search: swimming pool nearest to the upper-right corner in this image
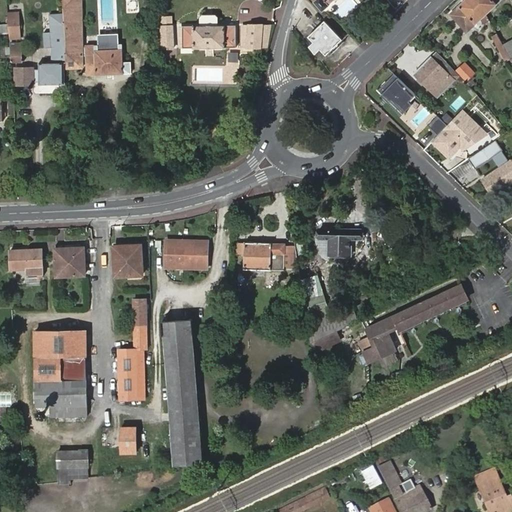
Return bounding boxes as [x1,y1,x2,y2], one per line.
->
[448,95,466,113]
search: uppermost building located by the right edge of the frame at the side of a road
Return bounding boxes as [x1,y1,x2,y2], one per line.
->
[448,0,496,33]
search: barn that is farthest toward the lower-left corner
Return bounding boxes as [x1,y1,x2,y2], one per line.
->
[55,450,88,485]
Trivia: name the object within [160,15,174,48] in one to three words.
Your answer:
shed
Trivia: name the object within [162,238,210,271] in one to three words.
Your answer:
house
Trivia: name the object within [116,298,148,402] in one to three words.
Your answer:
building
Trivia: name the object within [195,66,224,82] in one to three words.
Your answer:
swimming pool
